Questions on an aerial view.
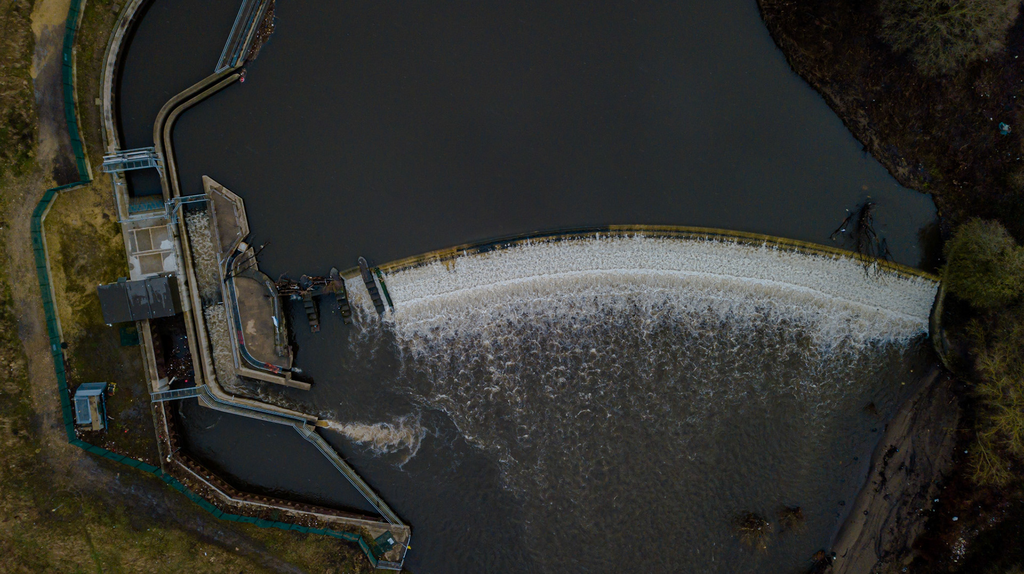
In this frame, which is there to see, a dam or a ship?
dam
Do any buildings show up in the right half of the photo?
No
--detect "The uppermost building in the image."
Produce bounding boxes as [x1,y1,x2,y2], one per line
[97,275,186,325]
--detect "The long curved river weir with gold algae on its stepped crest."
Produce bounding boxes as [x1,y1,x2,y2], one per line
[378,224,946,287]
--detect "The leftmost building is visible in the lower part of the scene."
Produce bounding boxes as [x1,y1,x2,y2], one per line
[76,382,111,396]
